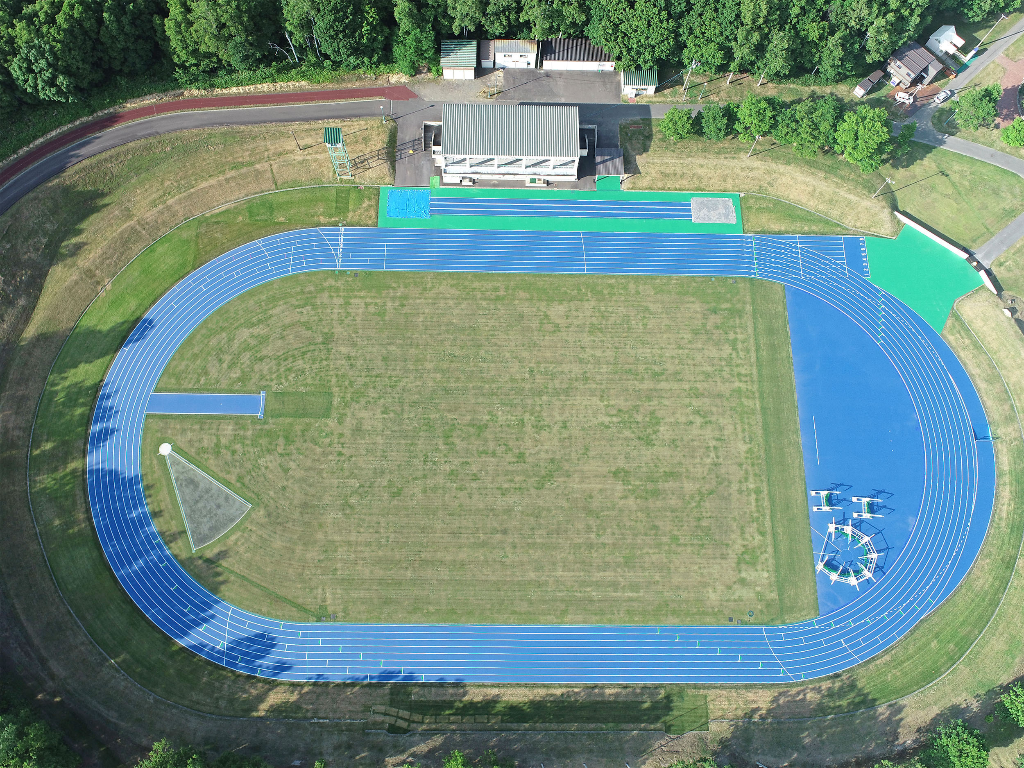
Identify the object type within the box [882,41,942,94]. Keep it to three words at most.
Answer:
house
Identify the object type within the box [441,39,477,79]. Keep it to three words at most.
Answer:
building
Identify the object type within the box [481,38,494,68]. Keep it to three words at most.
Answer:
shed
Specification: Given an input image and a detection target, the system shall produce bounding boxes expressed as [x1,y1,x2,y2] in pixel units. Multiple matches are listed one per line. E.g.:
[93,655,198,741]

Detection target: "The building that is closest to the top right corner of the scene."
[923,25,968,74]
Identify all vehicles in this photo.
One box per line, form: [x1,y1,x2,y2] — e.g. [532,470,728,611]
[895,89,917,106]
[936,89,953,104]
